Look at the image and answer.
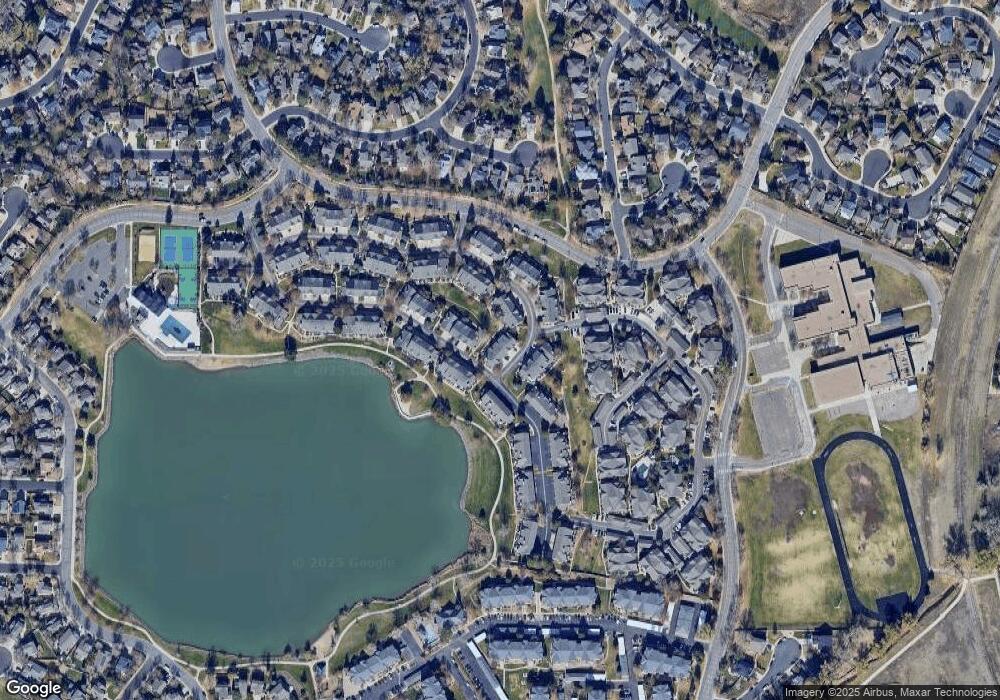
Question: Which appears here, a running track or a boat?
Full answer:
I can see a running track in this picture.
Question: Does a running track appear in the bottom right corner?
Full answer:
Yes, the scene does show a running track in the bottom right corner.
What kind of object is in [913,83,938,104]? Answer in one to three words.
house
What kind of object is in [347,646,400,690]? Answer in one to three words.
building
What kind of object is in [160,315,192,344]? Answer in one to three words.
swimming pool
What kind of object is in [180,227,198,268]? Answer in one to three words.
tennis court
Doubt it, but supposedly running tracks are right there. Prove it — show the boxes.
[813,432,930,627]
